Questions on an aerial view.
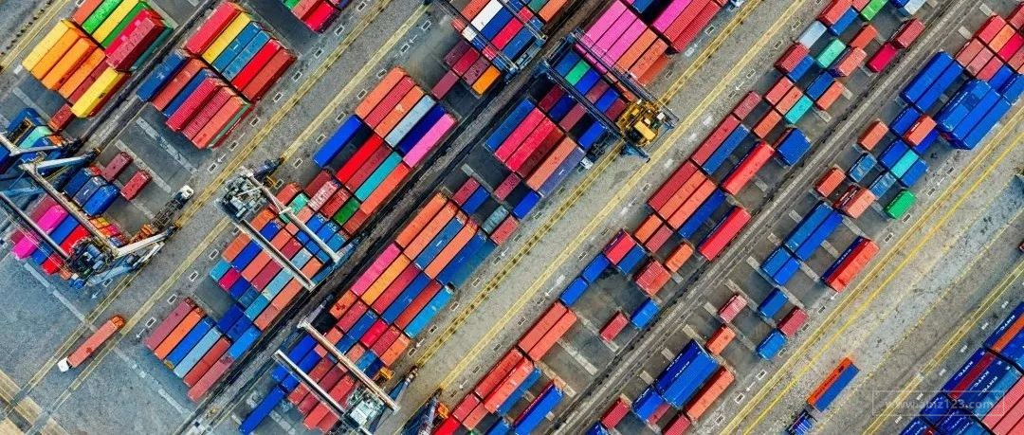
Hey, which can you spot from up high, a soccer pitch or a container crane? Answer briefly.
container crane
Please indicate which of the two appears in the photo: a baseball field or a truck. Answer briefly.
truck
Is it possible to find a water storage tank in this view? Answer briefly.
No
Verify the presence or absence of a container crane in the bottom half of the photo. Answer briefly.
Yes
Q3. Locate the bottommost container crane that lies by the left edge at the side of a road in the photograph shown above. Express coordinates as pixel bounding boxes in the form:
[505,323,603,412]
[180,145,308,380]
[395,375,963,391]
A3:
[0,150,183,294]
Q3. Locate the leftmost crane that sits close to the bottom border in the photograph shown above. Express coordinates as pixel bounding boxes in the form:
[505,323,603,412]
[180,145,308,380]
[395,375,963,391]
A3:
[269,284,421,435]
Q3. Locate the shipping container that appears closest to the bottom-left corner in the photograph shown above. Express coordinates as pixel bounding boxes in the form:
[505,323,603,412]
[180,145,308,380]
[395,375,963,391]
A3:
[66,320,122,367]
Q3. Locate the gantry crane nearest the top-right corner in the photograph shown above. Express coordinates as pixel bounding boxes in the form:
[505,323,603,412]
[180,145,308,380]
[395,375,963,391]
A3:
[537,24,682,162]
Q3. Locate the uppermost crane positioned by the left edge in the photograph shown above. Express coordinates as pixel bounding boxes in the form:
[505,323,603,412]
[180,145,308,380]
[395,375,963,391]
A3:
[0,104,89,178]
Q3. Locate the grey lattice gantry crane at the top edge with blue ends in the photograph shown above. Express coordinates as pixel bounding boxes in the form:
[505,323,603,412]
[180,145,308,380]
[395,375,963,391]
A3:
[427,0,549,77]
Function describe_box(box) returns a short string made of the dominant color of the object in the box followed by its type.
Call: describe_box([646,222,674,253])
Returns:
red shipping container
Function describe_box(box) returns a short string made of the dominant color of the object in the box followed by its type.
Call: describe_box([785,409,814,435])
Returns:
blue truck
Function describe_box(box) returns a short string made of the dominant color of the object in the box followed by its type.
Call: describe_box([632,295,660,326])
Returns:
blue shipping container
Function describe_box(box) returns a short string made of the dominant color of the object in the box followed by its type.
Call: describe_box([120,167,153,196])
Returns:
red shipping container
